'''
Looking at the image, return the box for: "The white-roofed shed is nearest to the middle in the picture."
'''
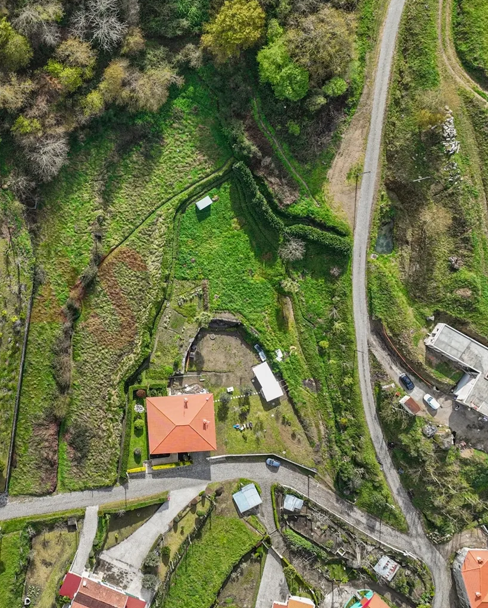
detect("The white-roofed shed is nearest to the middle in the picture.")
[251,362,287,401]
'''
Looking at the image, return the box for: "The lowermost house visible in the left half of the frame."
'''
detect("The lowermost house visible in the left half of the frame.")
[59,569,146,608]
